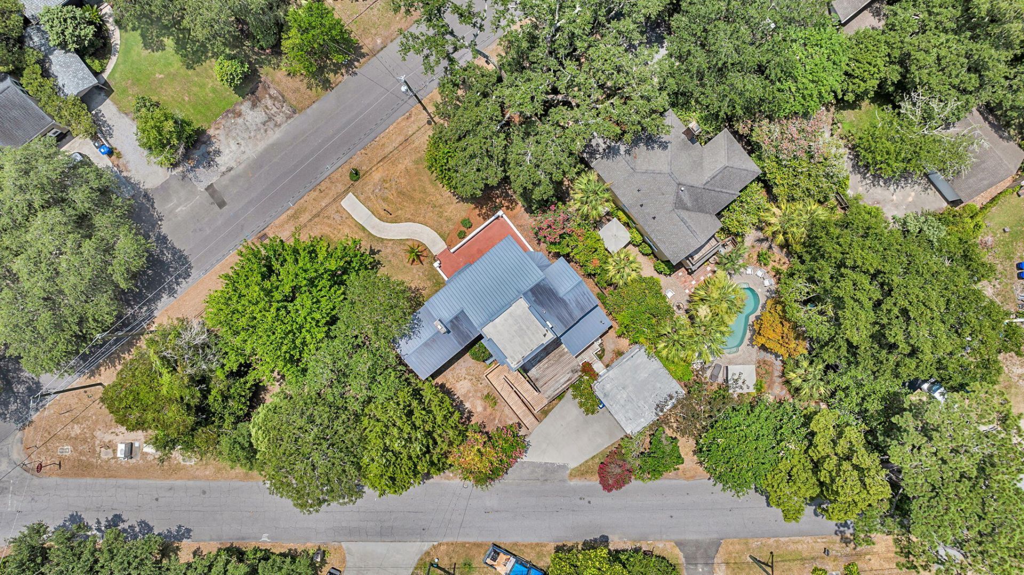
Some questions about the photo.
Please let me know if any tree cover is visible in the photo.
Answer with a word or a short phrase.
Yes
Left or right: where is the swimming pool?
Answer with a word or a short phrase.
right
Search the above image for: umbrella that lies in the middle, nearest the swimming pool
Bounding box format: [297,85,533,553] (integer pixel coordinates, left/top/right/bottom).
[599,218,630,253]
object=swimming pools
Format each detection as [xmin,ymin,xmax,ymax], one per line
[717,284,763,357]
